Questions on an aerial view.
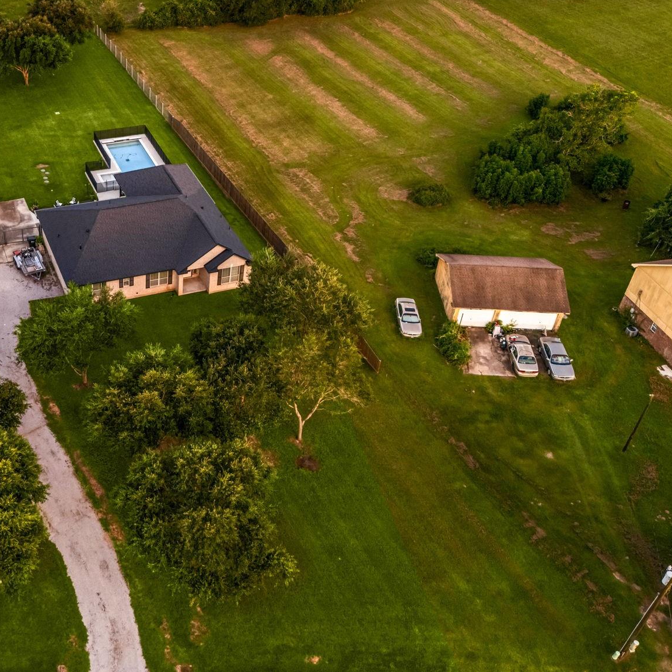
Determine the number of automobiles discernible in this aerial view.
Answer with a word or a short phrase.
3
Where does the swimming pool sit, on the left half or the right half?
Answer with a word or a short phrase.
left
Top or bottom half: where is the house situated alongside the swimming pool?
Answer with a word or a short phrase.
top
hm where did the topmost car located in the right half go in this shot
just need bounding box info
[396,296,424,335]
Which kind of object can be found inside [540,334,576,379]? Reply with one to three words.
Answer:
car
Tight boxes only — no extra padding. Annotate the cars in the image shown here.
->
[396,296,424,335]
[506,332,539,377]
[540,334,576,379]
